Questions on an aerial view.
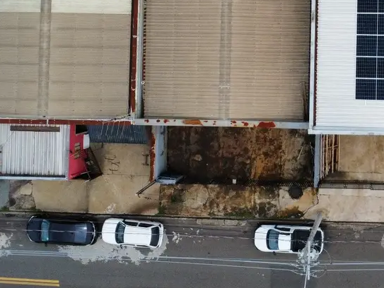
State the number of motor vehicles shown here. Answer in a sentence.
The count of motor vehicles comes to 3.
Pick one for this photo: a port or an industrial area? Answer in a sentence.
This looks like an industrial area.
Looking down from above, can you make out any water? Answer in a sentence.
No, water can't be seen anywhere here.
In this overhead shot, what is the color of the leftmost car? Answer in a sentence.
In this view, the leftmost car is black.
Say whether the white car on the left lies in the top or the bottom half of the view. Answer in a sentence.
You can find the white car on the left in the bottom half.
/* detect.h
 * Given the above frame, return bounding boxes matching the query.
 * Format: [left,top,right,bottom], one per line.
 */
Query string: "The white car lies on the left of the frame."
[103,216,168,249]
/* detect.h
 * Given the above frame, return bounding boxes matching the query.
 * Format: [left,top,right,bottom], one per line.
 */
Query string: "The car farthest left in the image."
[28,214,100,247]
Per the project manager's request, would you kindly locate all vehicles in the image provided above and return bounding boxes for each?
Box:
[28,214,100,247]
[255,223,324,255]
[103,216,168,249]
